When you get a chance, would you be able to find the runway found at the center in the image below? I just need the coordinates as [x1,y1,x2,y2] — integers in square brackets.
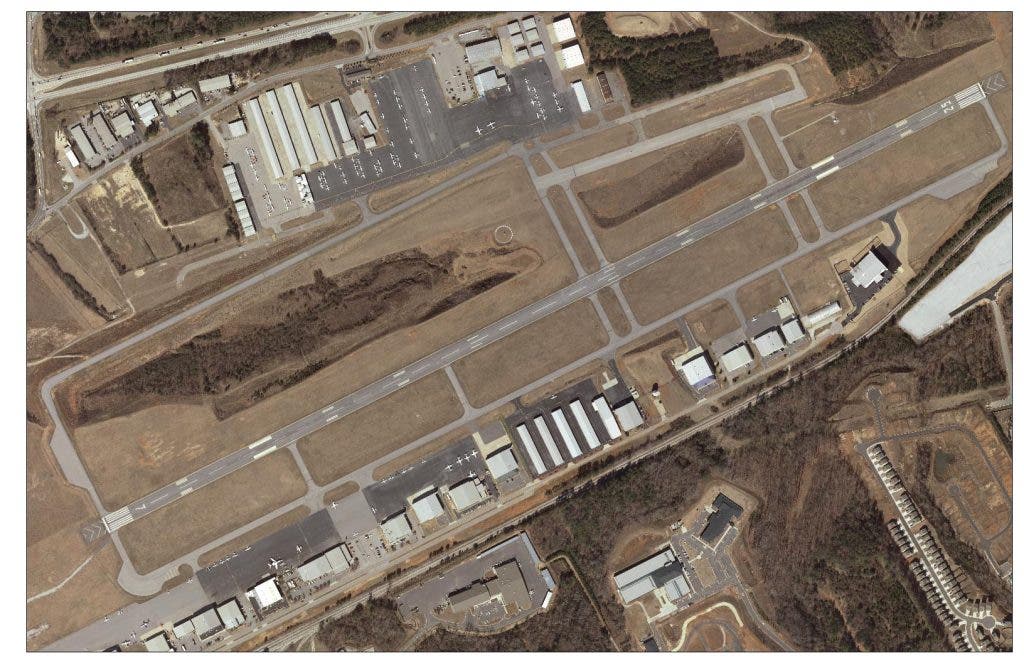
[81,74,1006,541]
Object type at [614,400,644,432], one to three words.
hangar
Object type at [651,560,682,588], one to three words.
building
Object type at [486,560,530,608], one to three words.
building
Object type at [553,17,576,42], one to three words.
hangar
